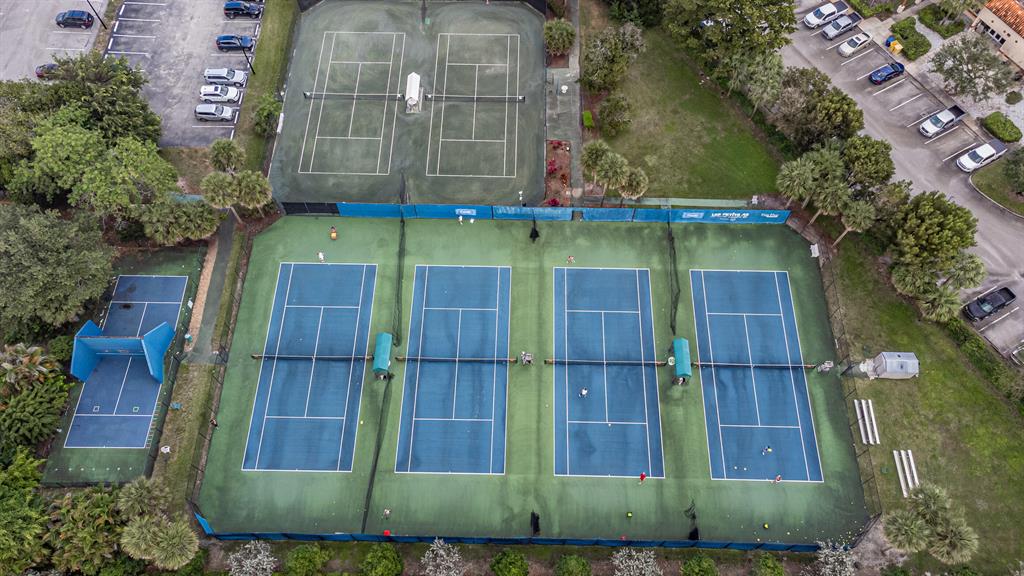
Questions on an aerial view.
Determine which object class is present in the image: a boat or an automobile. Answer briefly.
automobile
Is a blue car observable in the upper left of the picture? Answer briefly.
Yes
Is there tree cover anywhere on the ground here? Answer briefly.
Yes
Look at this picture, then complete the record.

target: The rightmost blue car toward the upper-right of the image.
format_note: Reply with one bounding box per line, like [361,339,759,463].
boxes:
[867,63,904,86]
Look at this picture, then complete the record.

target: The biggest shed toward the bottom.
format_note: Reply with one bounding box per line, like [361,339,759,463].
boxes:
[869,350,923,384]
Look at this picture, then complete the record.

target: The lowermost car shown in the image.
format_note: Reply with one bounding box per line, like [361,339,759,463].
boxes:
[966,285,1016,322]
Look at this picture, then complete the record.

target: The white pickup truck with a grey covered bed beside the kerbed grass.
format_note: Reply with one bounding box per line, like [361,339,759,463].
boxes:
[959,139,1005,172]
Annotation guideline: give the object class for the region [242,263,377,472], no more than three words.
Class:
tennis court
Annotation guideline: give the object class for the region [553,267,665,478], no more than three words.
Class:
tennis court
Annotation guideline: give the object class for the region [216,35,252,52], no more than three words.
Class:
car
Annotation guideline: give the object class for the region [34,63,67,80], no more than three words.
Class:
car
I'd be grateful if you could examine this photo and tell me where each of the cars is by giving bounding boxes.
[920,105,965,137]
[55,10,94,29]
[806,1,847,29]
[224,0,261,18]
[199,85,239,103]
[34,63,67,80]
[216,35,252,52]
[193,103,234,123]
[966,285,1016,322]
[205,68,245,87]
[821,13,862,41]
[837,33,873,57]
[959,139,1005,172]
[867,63,904,86]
